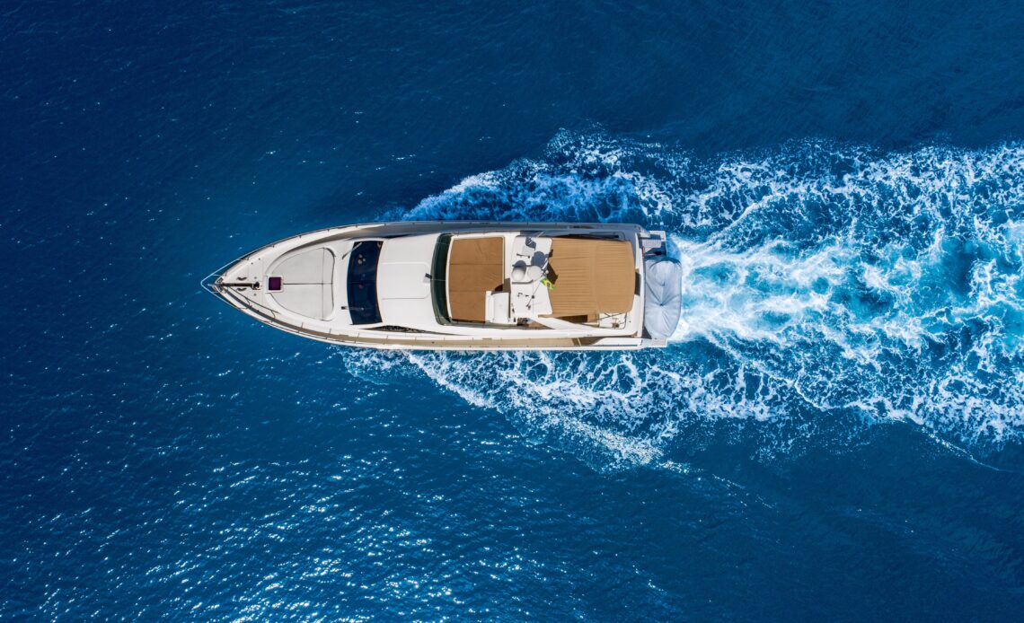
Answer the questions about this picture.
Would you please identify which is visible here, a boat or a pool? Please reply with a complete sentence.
I can see a boat in this picture.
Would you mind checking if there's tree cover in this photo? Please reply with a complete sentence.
No, the scene doesn't show any tree cover.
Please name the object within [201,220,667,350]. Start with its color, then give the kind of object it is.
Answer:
white boat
